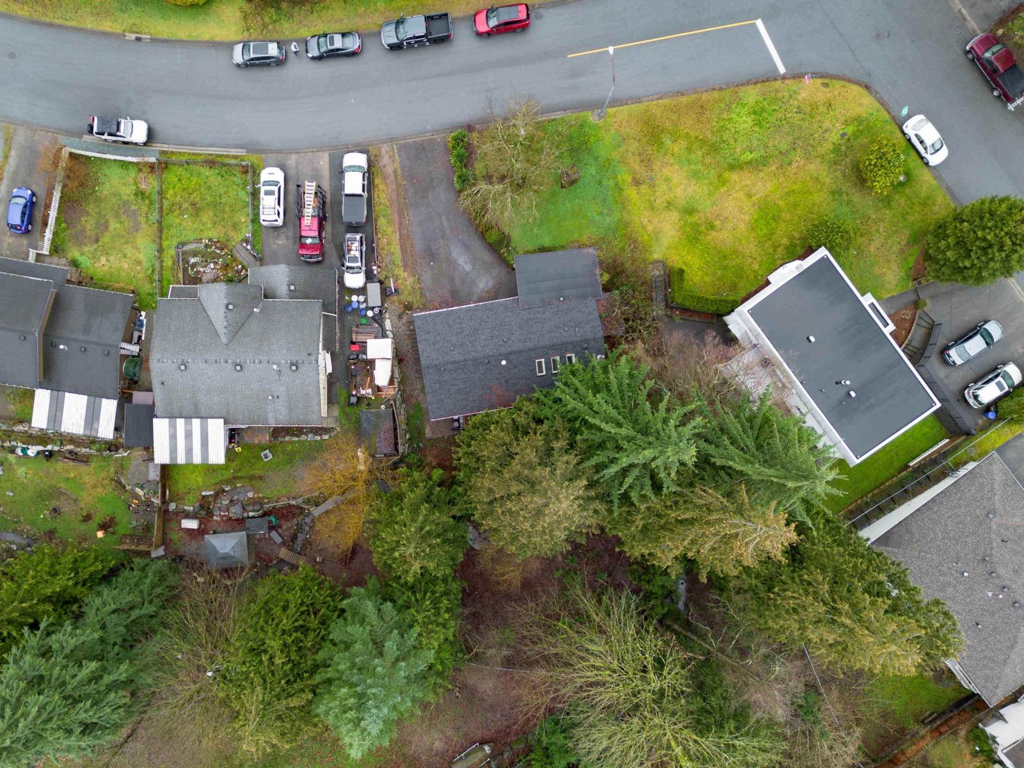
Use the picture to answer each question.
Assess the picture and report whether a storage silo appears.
No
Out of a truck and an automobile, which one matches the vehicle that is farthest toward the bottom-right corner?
automobile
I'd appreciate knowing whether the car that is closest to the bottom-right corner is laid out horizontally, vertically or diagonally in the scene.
diagonally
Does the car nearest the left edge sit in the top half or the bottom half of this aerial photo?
top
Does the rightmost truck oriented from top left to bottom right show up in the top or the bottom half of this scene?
top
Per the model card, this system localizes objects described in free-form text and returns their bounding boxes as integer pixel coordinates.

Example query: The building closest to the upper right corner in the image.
[729,248,941,467]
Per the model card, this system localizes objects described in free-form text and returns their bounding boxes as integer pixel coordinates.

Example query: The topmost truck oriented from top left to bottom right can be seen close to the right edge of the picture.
[969,38,1024,111]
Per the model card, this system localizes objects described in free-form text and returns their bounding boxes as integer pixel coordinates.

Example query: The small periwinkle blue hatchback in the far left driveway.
[8,186,39,235]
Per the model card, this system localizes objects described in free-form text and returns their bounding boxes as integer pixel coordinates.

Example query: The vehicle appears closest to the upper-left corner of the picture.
[87,112,150,144]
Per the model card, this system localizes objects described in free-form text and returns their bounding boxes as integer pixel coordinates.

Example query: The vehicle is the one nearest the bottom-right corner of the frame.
[961,362,1021,410]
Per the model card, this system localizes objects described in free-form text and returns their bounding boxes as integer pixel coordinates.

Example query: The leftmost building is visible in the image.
[0,256,138,400]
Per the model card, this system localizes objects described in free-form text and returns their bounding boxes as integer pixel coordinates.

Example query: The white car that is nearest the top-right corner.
[901,112,947,167]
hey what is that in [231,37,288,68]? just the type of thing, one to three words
car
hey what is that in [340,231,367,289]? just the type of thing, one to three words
truck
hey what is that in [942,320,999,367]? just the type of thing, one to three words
car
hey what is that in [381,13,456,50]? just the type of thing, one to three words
truck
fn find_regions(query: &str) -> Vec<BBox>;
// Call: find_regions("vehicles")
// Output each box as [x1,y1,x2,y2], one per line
[8,186,39,235]
[969,38,1024,111]
[942,320,999,367]
[961,362,1021,410]
[87,112,150,144]
[340,231,367,289]
[305,31,364,61]
[474,4,531,37]
[231,37,288,68]
[294,186,327,261]
[340,155,370,228]
[258,168,288,227]
[381,13,456,50]
[901,112,947,167]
